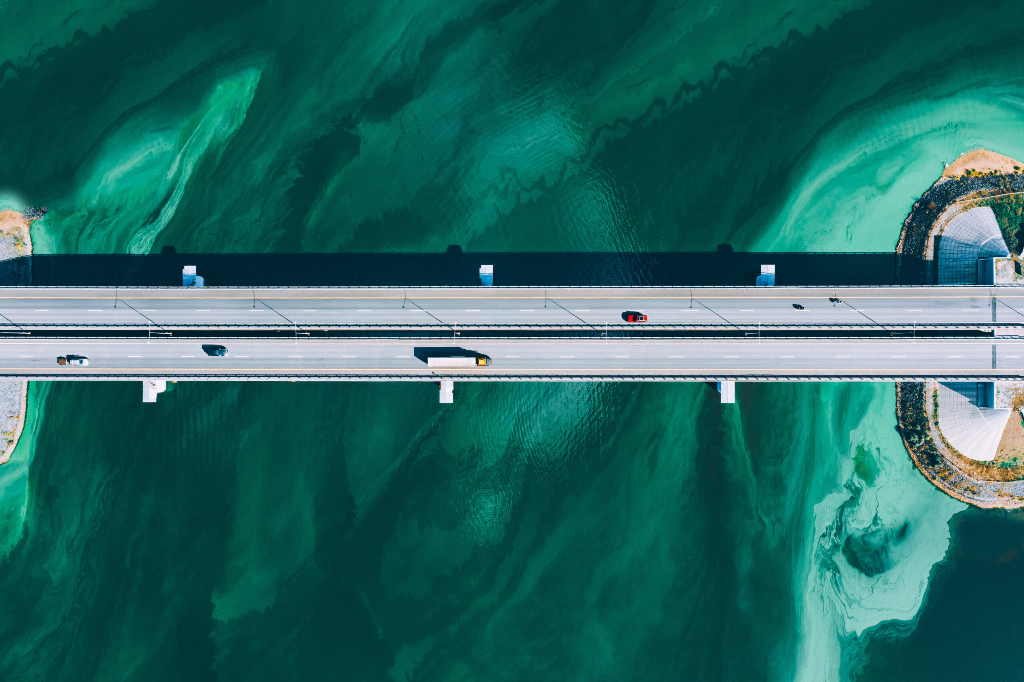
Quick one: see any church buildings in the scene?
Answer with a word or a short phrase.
No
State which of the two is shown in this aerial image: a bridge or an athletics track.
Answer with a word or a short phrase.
bridge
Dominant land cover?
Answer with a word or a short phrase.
water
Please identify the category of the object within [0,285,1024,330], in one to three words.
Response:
bridge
